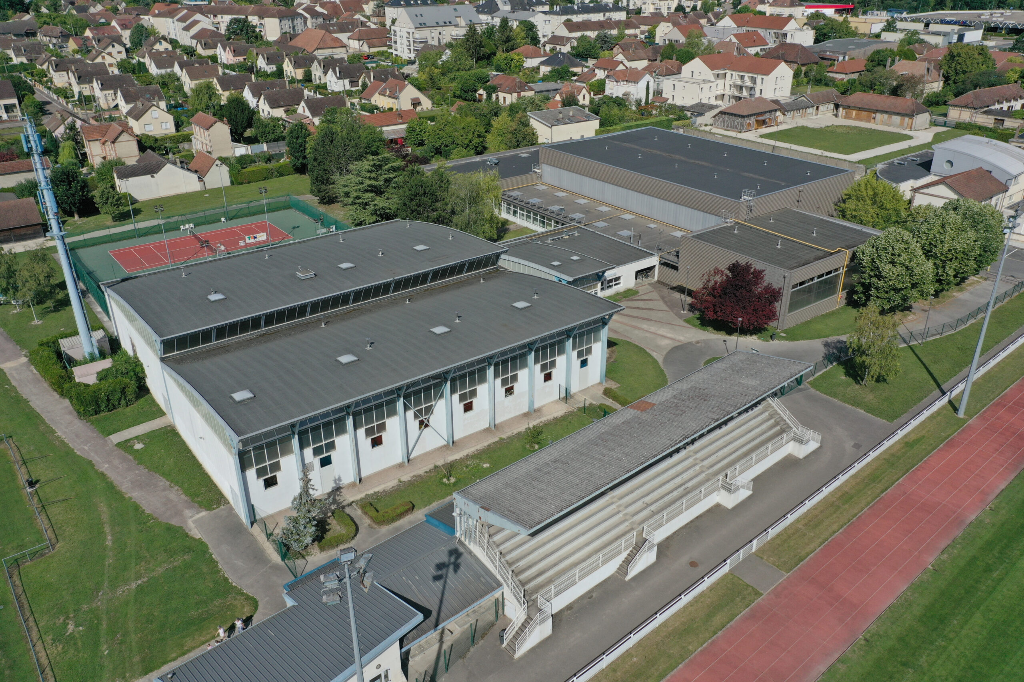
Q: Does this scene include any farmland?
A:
No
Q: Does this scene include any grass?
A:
Yes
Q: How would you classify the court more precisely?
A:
tennis court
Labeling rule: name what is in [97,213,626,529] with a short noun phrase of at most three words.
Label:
building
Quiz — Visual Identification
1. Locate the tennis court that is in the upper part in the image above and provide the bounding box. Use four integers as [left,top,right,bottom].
[109,220,292,272]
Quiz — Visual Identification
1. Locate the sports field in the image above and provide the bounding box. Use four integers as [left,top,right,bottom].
[813,471,1024,682]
